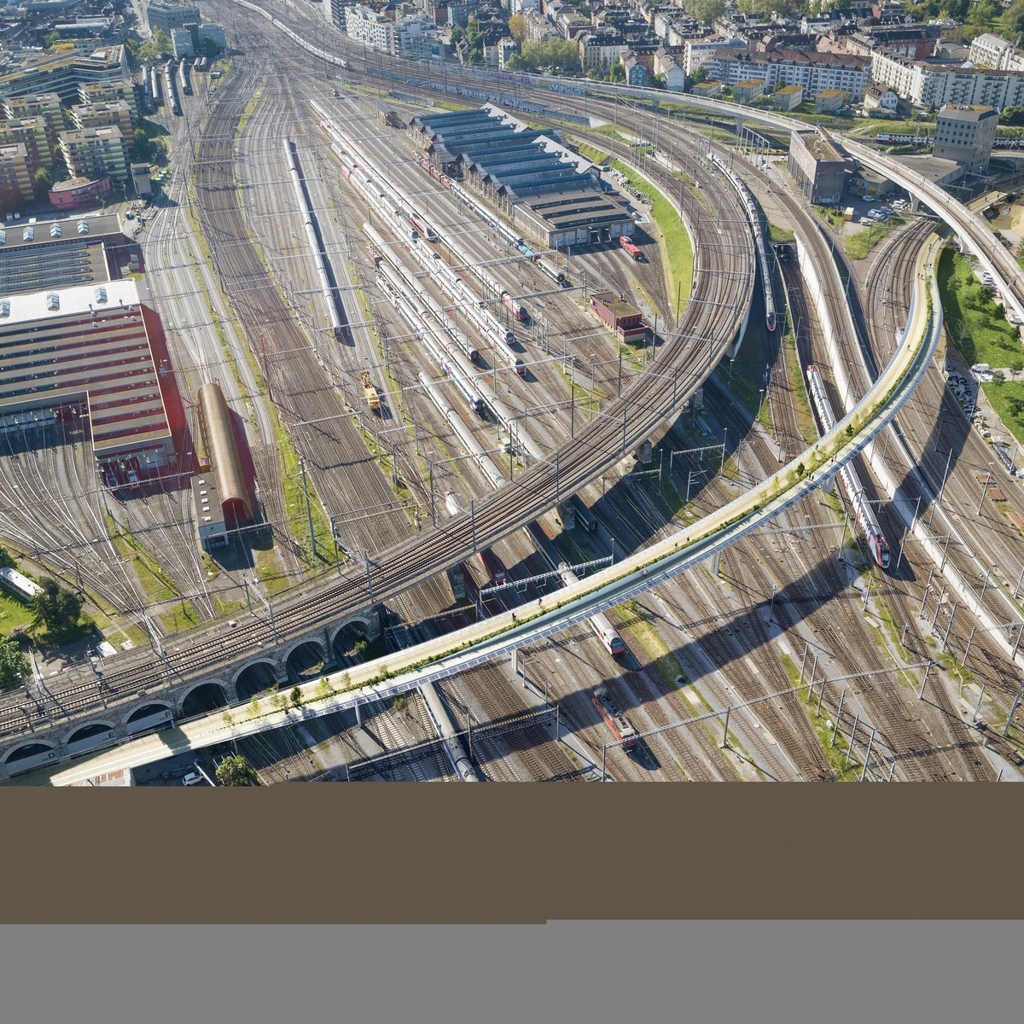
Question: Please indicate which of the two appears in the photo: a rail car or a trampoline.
rail car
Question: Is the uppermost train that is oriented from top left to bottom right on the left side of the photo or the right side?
left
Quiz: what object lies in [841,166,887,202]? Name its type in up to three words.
shed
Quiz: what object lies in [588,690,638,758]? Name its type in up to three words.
rail car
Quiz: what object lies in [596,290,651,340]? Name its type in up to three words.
building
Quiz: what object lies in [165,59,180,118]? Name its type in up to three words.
train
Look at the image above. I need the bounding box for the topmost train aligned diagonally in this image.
[226,0,350,74]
